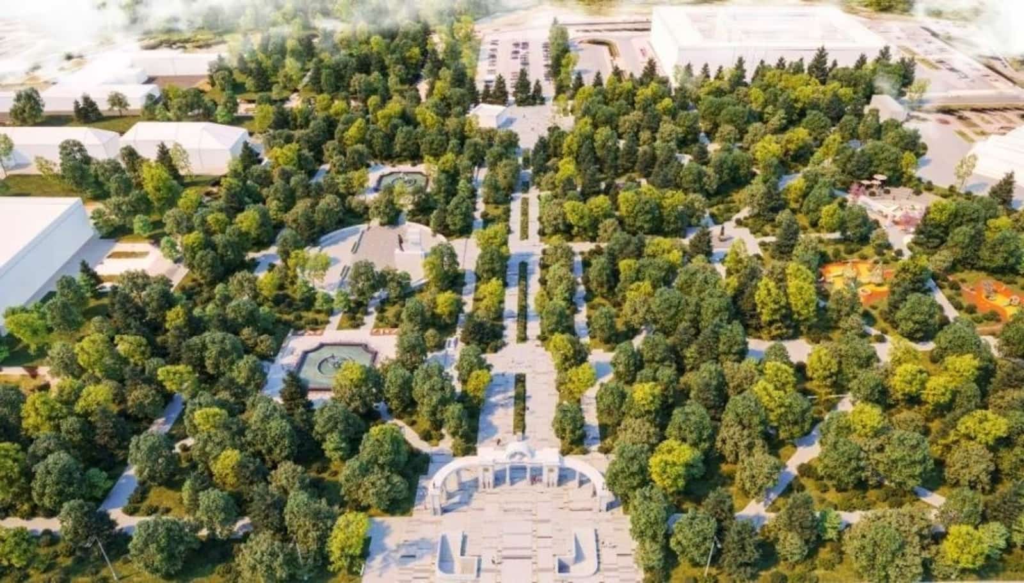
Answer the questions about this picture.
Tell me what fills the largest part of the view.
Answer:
trees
